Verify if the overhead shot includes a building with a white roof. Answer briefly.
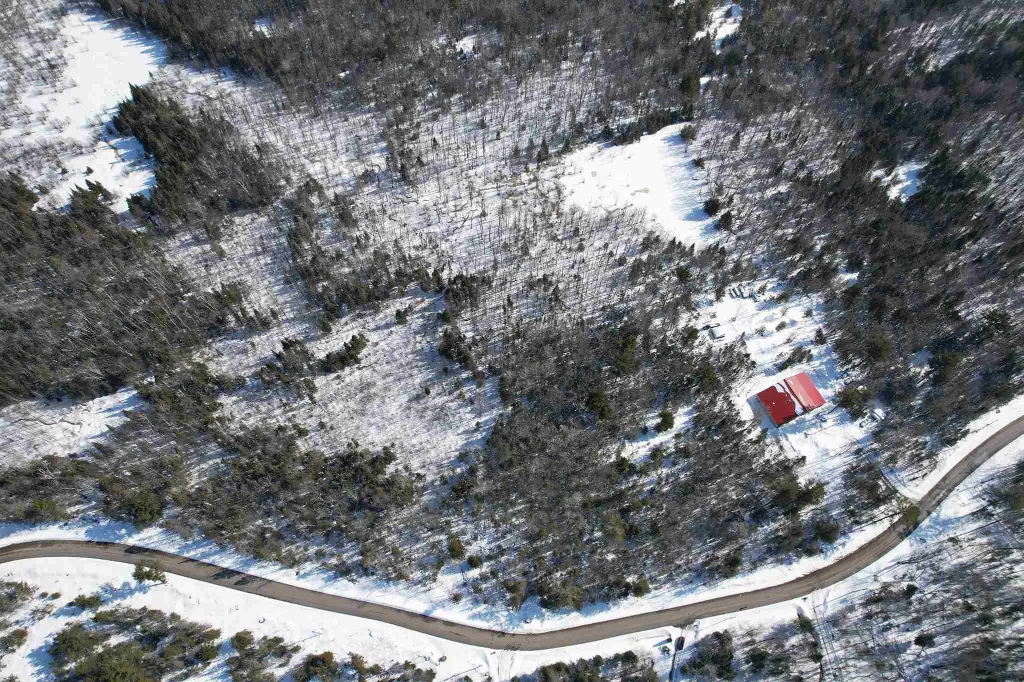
No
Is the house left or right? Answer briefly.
right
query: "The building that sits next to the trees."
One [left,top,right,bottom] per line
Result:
[756,372,825,426]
